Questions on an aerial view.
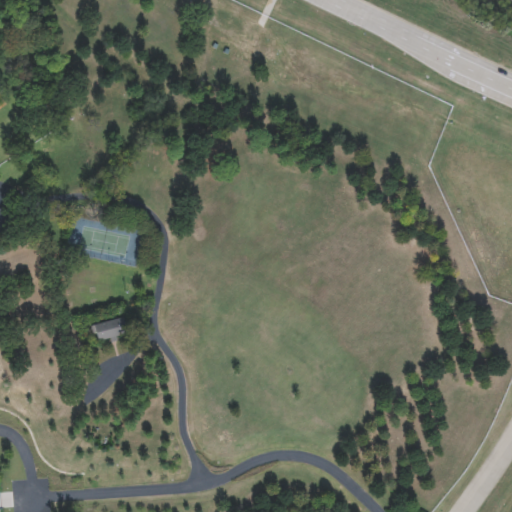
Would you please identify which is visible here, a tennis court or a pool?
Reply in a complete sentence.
It is a tennis court that can be seen here.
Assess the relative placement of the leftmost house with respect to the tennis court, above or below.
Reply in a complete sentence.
Looking at the scene, the leftmost house is located below the tennis court.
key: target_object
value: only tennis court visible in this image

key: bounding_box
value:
[72,218,138,265]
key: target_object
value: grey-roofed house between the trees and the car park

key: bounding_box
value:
[92,320,124,341]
